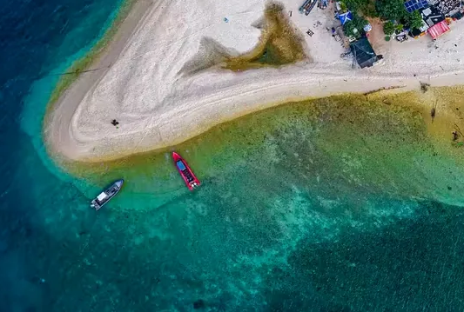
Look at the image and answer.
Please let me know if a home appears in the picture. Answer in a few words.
Yes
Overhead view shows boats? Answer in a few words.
Yes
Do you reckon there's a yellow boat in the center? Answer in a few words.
No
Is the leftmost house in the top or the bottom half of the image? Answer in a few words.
top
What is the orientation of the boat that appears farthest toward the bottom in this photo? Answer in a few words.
on a diagonal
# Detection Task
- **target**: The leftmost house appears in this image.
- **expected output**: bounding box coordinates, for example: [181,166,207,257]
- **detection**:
[351,38,377,64]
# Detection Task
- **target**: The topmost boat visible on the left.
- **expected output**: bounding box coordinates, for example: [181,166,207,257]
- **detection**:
[171,151,200,195]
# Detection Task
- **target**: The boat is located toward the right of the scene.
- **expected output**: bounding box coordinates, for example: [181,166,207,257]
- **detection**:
[297,0,315,15]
